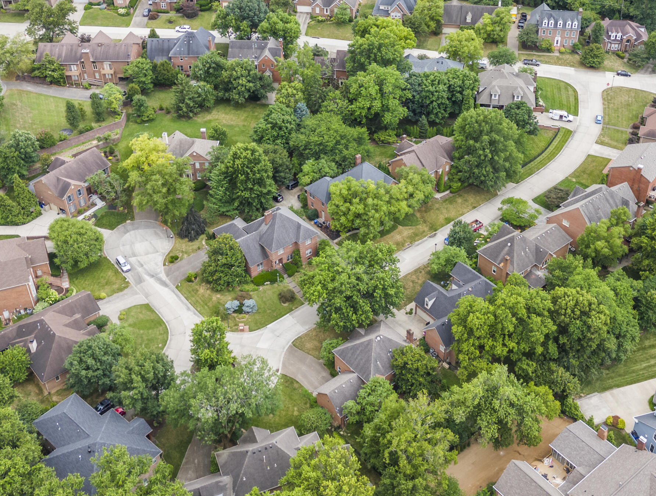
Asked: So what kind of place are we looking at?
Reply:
residential area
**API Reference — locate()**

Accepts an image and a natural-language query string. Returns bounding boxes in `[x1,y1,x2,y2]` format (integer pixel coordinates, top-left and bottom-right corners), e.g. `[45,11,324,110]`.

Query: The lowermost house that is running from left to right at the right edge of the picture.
[490,422,656,496]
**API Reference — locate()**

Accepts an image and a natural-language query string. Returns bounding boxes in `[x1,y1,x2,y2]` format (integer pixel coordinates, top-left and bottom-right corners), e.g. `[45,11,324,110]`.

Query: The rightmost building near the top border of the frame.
[583,19,645,54]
